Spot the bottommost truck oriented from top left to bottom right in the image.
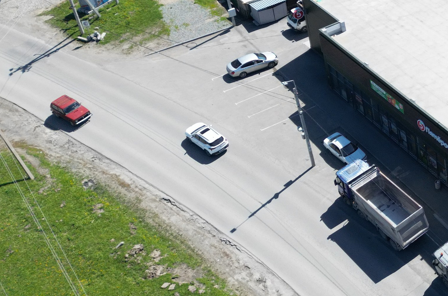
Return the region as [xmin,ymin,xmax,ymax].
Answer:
[323,165,427,257]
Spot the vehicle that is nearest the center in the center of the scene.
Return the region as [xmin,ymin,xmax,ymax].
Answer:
[186,125,230,158]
